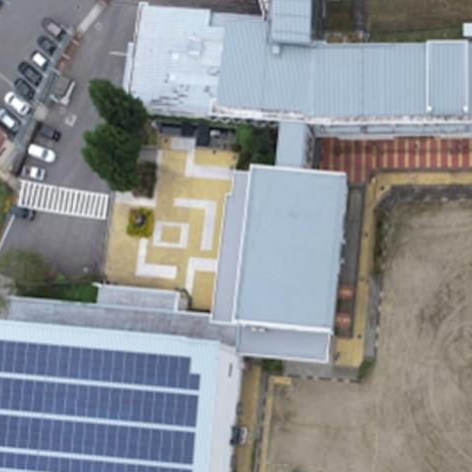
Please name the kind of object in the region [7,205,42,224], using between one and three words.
car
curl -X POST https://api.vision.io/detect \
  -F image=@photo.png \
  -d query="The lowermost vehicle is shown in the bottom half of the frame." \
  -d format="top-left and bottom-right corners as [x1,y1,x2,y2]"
[235,430,253,443]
